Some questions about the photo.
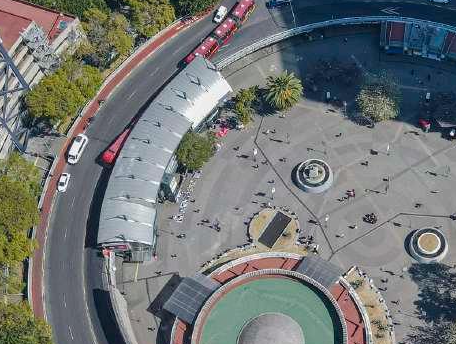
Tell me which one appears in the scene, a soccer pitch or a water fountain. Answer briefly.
water fountain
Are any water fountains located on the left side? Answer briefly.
No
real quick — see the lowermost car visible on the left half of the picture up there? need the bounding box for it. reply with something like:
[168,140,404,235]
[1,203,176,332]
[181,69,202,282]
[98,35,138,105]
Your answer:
[57,173,71,193]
